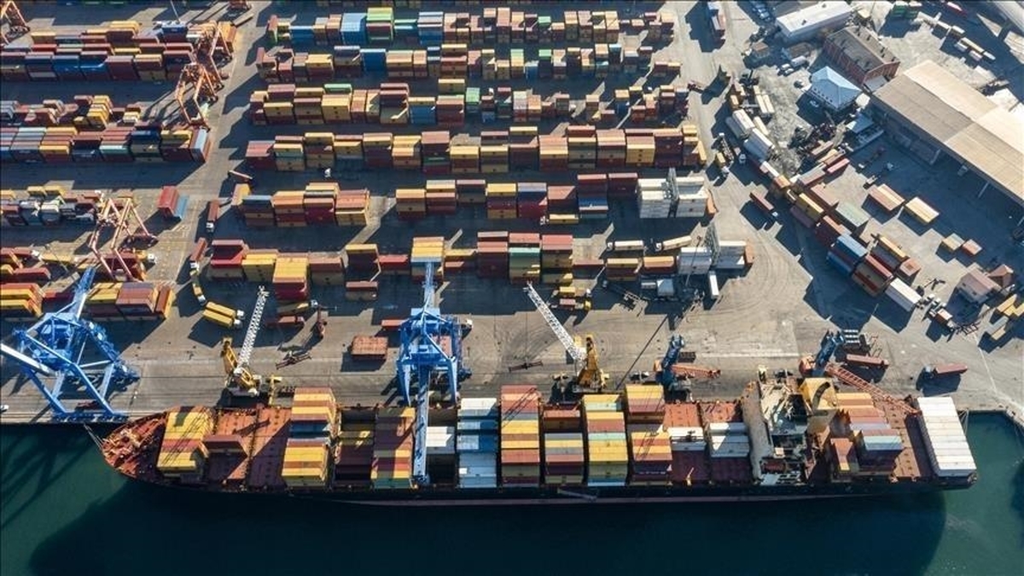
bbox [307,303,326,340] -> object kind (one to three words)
work vehicle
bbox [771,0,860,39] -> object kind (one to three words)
building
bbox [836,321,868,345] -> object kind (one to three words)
work vehicle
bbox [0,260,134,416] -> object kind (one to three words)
container crane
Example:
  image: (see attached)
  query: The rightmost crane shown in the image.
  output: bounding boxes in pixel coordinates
[793,328,925,417]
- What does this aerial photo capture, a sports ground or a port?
port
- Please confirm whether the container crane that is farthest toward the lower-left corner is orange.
No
